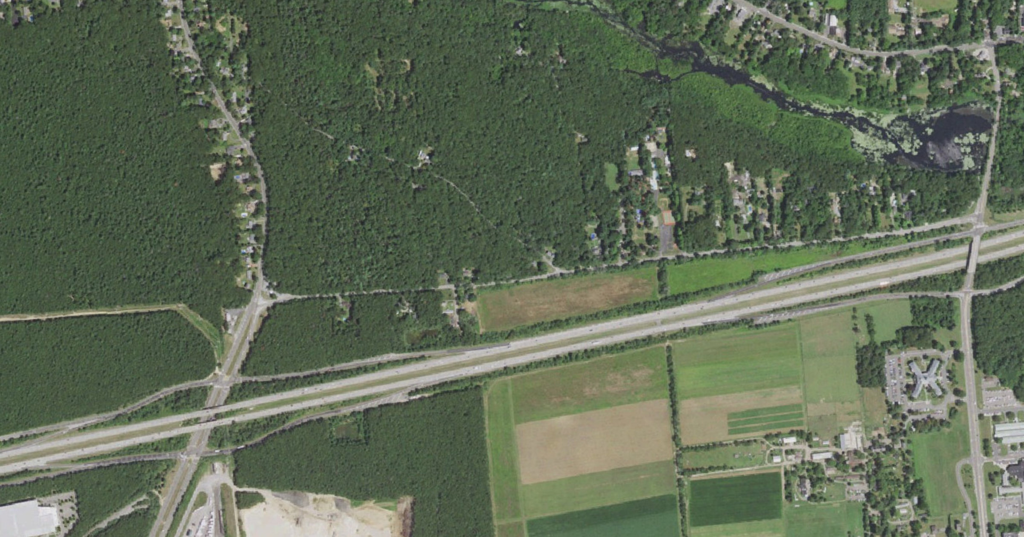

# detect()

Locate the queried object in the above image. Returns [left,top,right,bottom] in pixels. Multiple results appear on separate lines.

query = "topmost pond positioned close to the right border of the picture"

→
[838,101,994,172]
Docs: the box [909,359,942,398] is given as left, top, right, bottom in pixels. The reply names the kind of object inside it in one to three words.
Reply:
building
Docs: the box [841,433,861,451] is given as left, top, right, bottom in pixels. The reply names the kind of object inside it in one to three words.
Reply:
barn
